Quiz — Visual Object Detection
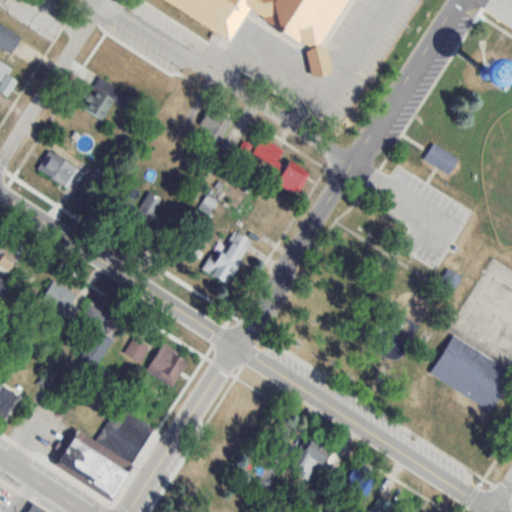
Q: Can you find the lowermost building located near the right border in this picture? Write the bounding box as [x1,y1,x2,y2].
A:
[430,334,506,406]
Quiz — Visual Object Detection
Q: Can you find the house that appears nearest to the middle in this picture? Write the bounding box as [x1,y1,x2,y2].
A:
[201,231,250,282]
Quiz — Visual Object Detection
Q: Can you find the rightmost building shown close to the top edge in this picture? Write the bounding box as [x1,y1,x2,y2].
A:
[166,0,352,76]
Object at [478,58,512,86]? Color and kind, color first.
blue water tower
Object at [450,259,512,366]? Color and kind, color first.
white tennis court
